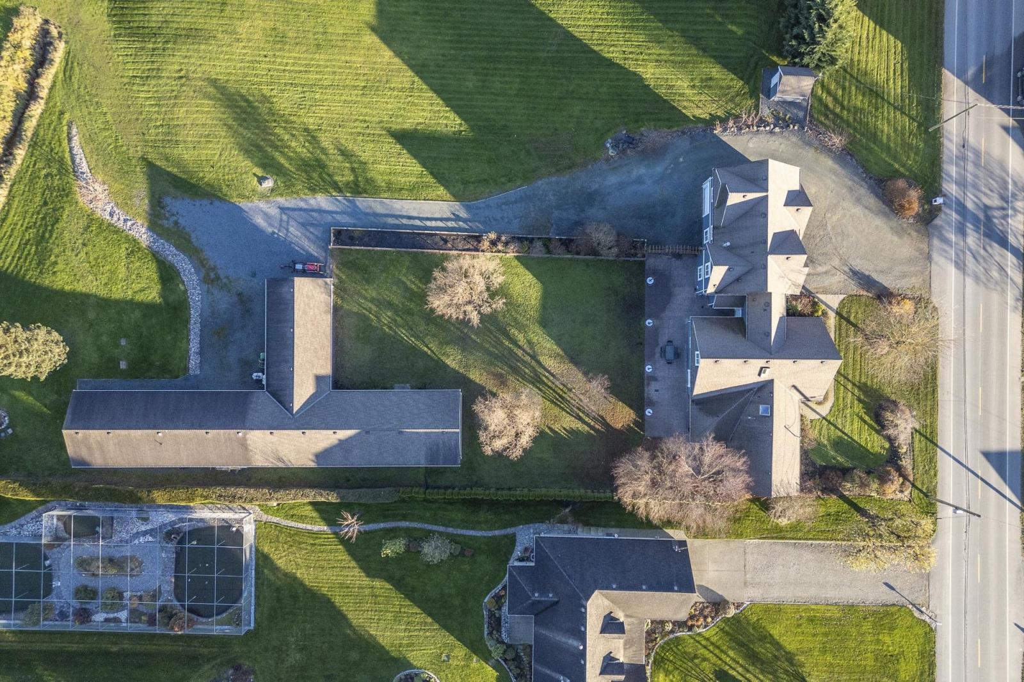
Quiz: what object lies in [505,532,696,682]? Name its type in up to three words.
house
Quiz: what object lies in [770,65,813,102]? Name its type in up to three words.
shed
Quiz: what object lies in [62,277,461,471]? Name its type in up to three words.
barn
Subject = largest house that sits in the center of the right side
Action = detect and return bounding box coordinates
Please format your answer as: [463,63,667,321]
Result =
[683,158,842,498]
